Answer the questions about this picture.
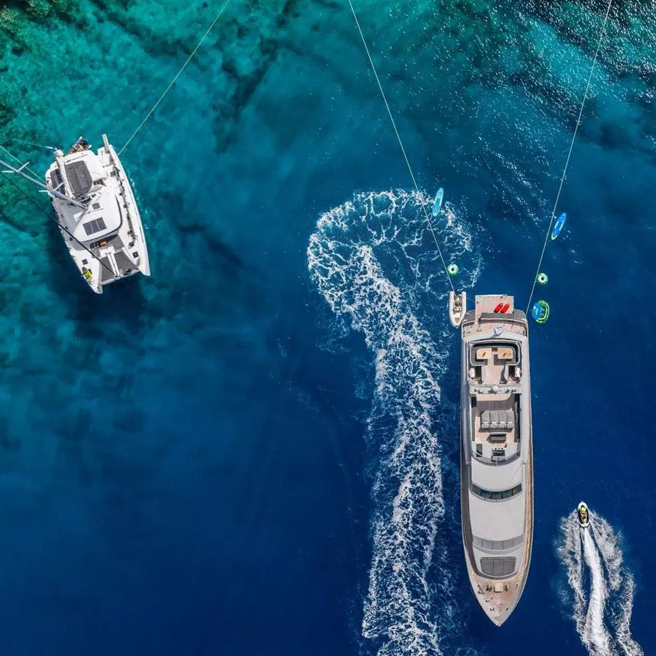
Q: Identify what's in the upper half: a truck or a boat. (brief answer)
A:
boat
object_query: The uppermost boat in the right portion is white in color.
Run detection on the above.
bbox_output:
[449,292,470,327]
